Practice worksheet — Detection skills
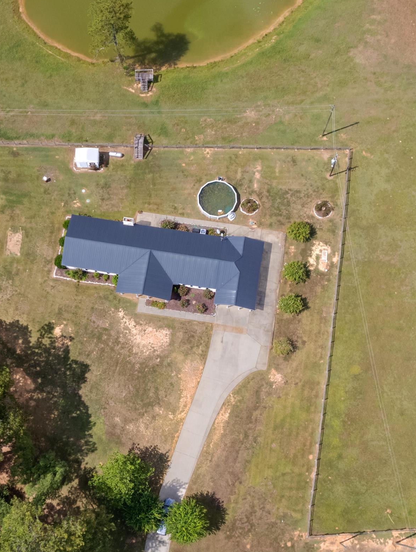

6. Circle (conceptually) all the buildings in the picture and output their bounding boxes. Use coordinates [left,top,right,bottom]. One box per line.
[75,147,99,170]
[61,214,264,312]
